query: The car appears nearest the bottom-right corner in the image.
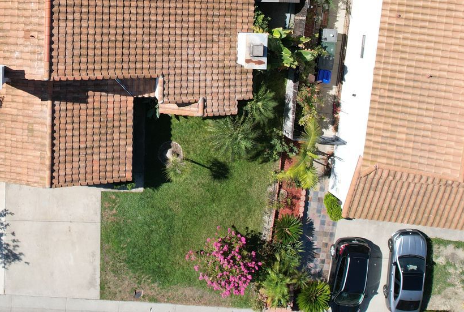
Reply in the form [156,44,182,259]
[389,233,437,312]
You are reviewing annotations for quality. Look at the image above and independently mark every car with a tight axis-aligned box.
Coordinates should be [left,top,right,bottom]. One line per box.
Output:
[327,242,375,312]
[389,233,437,312]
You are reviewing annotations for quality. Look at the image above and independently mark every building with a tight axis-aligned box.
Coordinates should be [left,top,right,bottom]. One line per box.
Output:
[328,0,464,233]
[0,0,269,190]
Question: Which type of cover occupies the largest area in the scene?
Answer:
buildings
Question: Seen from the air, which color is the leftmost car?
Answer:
black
